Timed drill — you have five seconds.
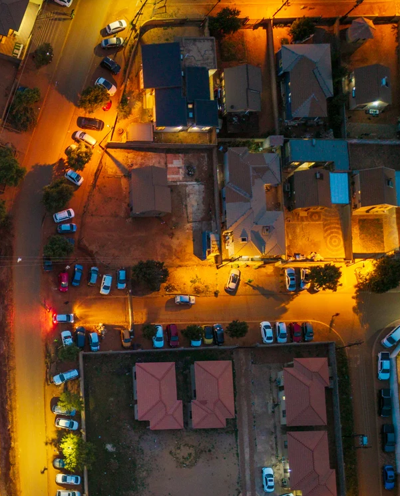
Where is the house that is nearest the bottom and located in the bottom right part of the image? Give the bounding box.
[281,430,337,496]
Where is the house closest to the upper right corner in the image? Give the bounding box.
[347,63,392,109]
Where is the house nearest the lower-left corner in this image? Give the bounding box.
[133,363,184,429]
